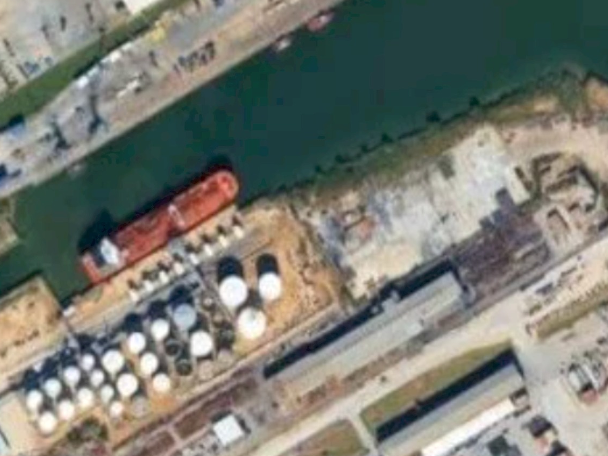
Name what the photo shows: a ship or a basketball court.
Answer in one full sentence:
The image shows a ship.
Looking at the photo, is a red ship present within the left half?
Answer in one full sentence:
Yes, a red ship shows up within the left half.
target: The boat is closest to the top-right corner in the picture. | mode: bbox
[306,15,330,32]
